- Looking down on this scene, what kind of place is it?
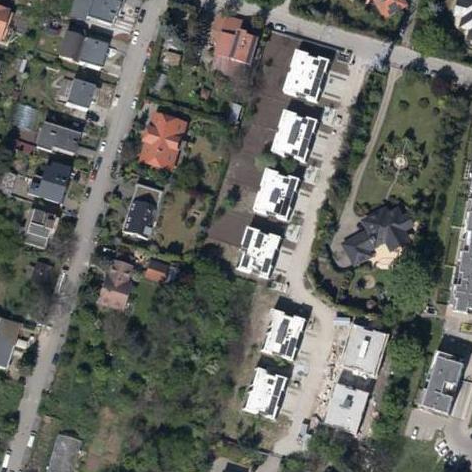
residential area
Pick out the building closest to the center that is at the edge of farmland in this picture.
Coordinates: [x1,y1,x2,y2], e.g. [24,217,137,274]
[236,227,282,281]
